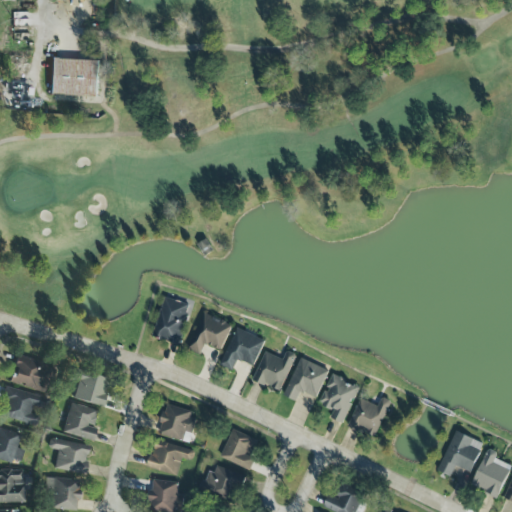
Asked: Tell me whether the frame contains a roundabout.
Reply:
No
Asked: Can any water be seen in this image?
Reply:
Yes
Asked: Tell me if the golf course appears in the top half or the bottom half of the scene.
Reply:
top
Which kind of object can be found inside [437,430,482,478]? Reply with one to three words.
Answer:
house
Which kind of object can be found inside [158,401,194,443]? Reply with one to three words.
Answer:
house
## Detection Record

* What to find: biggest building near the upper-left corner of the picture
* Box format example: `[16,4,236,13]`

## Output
[46,57,99,96]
